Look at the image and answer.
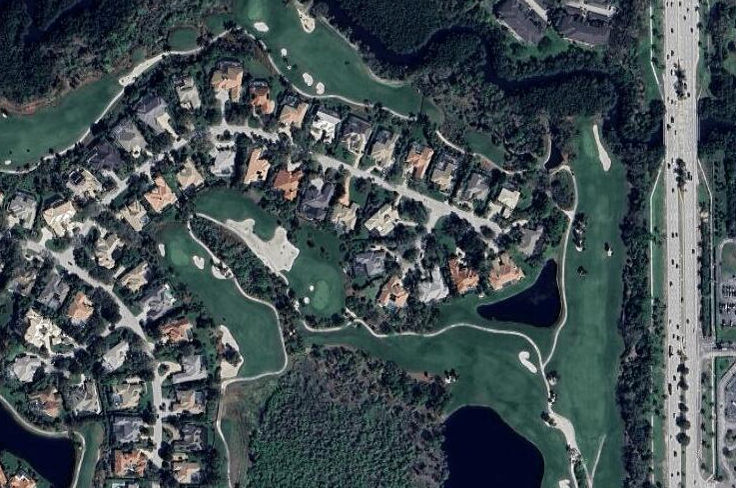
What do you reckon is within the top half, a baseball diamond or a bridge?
bridge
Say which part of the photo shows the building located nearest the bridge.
top right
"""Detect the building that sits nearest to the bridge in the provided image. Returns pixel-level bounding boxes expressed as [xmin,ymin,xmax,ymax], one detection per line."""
[558,13,611,48]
